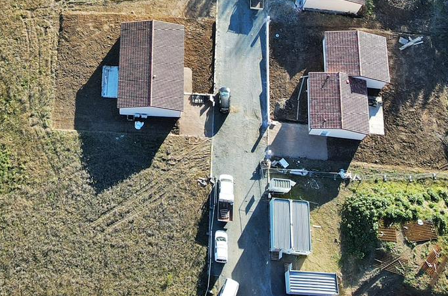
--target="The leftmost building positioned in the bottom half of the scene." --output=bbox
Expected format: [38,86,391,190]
[268,199,292,253]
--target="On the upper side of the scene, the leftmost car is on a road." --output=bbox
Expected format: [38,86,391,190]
[218,87,231,114]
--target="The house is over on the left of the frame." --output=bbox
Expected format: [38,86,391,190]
[116,20,185,115]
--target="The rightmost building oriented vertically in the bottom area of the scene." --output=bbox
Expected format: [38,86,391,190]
[290,200,311,253]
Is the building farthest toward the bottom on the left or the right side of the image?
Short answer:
right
